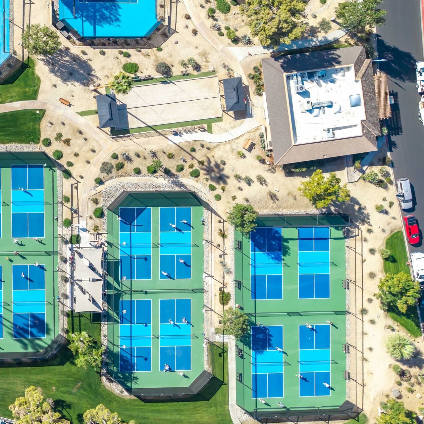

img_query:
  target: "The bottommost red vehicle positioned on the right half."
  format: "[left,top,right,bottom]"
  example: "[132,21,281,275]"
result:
[402,214,423,243]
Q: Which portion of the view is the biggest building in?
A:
top right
